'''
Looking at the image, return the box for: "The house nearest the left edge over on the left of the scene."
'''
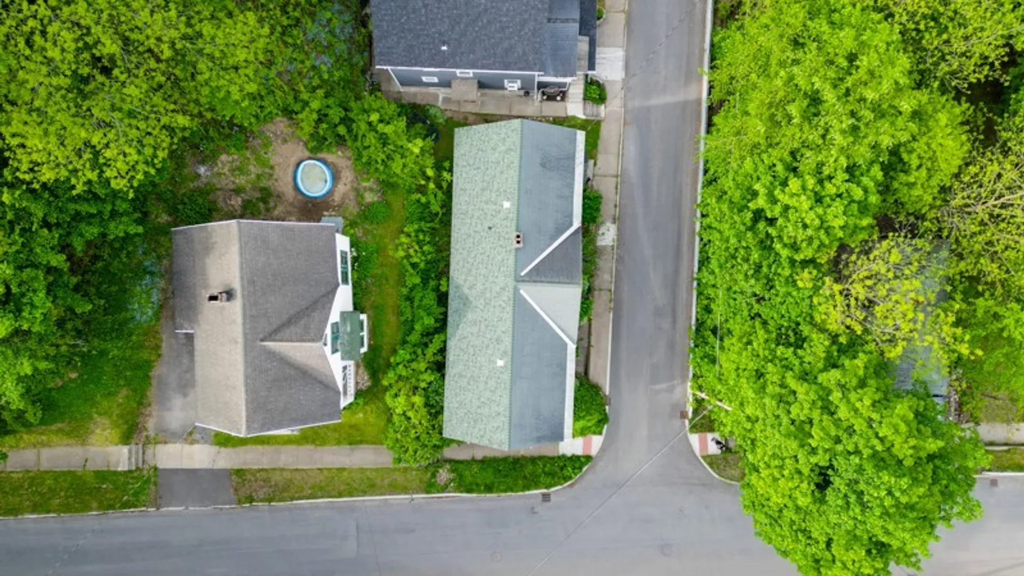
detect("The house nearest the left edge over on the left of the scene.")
[171,216,367,437]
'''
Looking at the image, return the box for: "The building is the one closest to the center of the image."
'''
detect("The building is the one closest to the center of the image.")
[443,119,586,450]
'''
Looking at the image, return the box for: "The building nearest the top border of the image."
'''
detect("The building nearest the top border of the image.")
[371,0,596,108]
